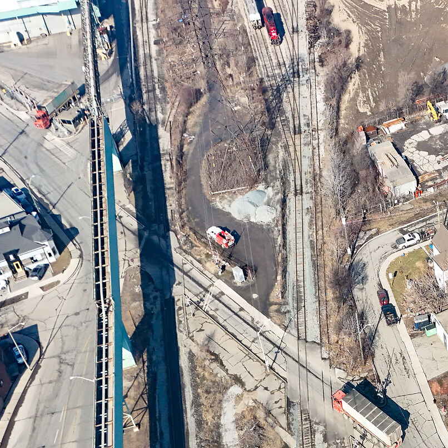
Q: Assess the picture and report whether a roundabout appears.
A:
No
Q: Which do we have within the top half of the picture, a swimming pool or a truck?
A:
truck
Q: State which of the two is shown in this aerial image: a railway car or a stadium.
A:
railway car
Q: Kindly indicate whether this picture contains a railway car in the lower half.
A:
No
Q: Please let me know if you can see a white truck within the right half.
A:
Yes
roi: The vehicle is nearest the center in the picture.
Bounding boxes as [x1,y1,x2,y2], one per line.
[207,227,235,247]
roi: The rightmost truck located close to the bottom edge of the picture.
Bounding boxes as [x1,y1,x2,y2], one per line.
[344,398,409,448]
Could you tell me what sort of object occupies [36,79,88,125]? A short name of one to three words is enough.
truck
